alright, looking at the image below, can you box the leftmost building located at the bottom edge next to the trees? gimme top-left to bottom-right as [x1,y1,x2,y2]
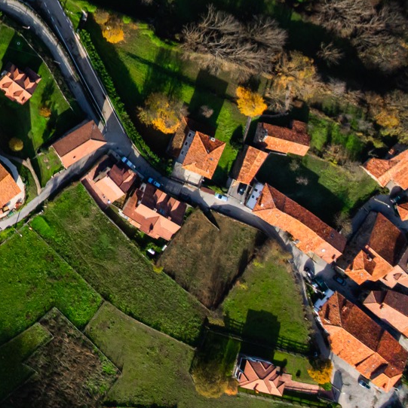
[228,349,284,397]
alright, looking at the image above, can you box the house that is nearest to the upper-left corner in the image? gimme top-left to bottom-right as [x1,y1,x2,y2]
[0,62,41,105]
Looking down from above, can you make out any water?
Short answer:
No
